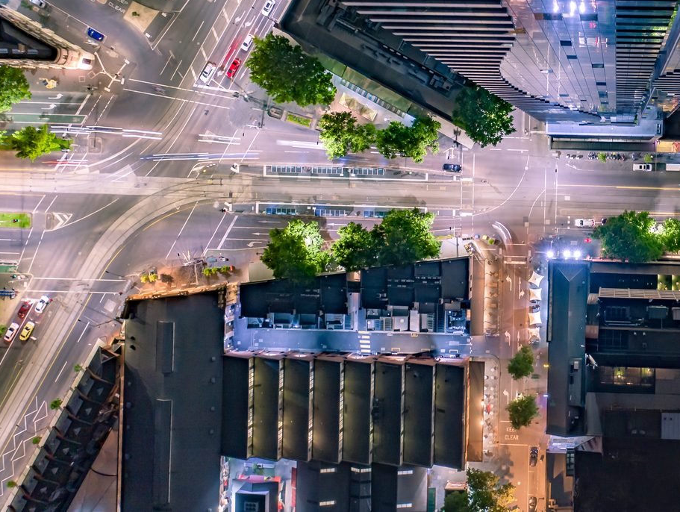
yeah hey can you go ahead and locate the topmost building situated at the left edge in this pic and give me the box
[0,0,114,66]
